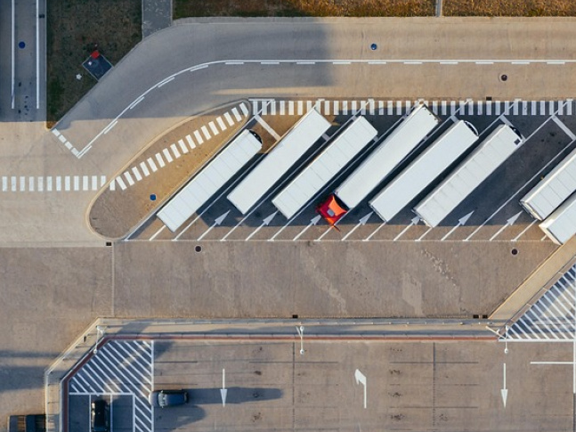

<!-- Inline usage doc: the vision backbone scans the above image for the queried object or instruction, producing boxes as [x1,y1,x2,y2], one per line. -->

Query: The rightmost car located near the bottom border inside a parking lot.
[150,390,188,411]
